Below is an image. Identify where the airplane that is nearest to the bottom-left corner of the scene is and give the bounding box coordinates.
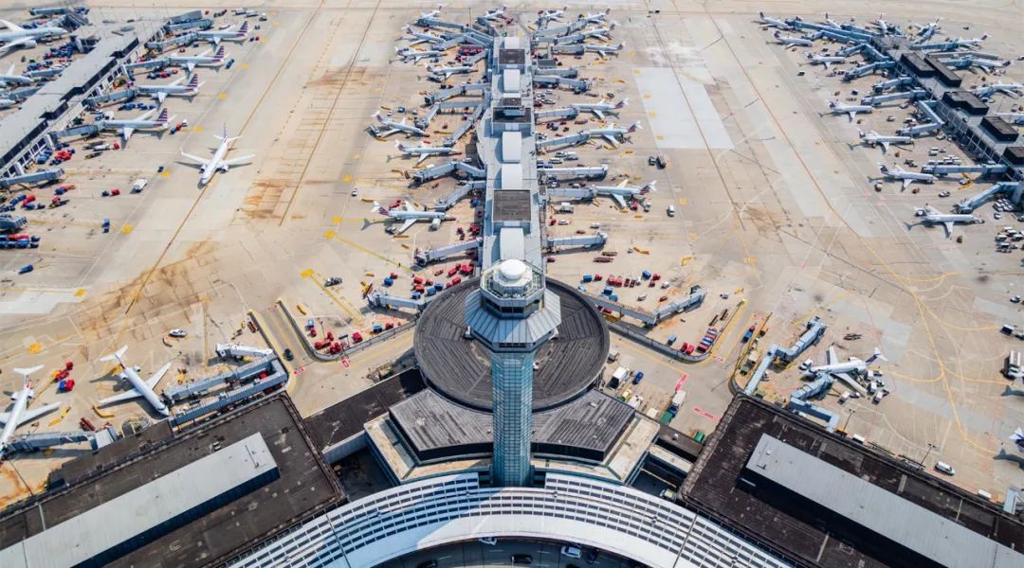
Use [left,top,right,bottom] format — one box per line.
[0,374,54,458]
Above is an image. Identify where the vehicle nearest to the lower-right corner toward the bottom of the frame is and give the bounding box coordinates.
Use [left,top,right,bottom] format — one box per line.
[972,488,994,502]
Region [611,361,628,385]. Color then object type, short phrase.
white vehicle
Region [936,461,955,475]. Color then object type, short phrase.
white vehicle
